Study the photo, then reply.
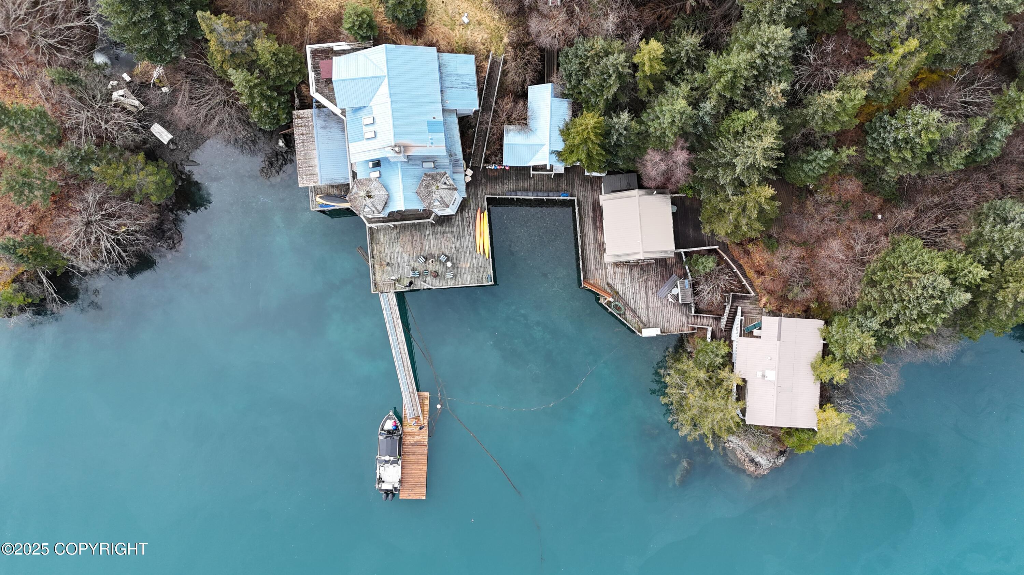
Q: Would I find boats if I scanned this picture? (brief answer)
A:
Yes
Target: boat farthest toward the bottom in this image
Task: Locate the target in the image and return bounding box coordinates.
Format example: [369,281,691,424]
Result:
[376,410,402,499]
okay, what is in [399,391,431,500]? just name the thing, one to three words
pier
